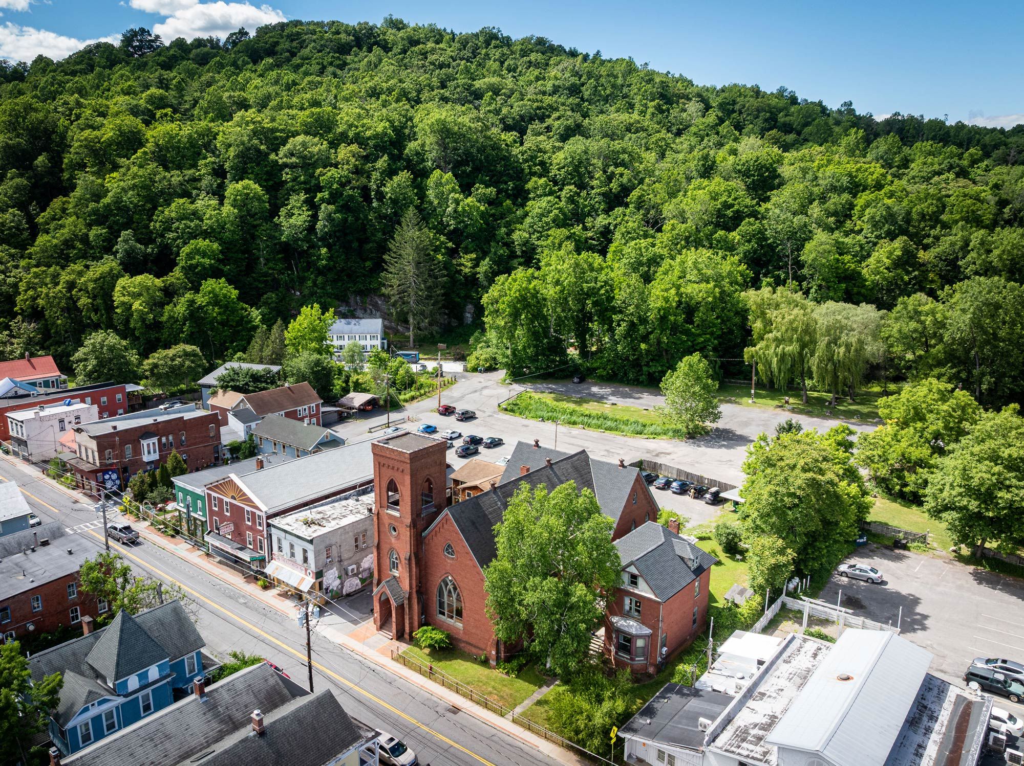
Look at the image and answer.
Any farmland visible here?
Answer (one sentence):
No, there's no farmland in this view.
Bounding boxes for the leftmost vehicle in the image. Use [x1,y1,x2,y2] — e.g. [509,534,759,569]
[102,520,139,543]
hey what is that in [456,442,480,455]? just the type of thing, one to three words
vehicle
